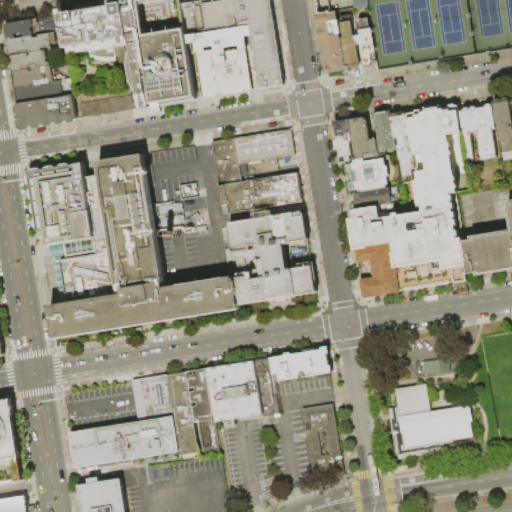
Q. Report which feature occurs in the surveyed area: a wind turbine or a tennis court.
tennis court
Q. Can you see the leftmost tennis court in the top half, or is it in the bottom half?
top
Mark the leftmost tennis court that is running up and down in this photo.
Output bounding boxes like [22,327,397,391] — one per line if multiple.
[368,0,410,68]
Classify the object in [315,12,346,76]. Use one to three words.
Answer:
house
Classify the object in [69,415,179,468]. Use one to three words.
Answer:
building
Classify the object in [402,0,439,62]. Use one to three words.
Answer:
tennis court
